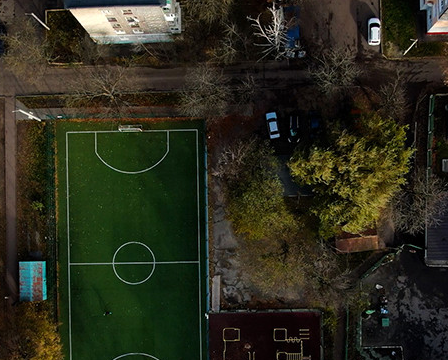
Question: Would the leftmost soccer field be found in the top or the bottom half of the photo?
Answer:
bottom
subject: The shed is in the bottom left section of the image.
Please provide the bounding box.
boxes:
[19,260,51,302]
